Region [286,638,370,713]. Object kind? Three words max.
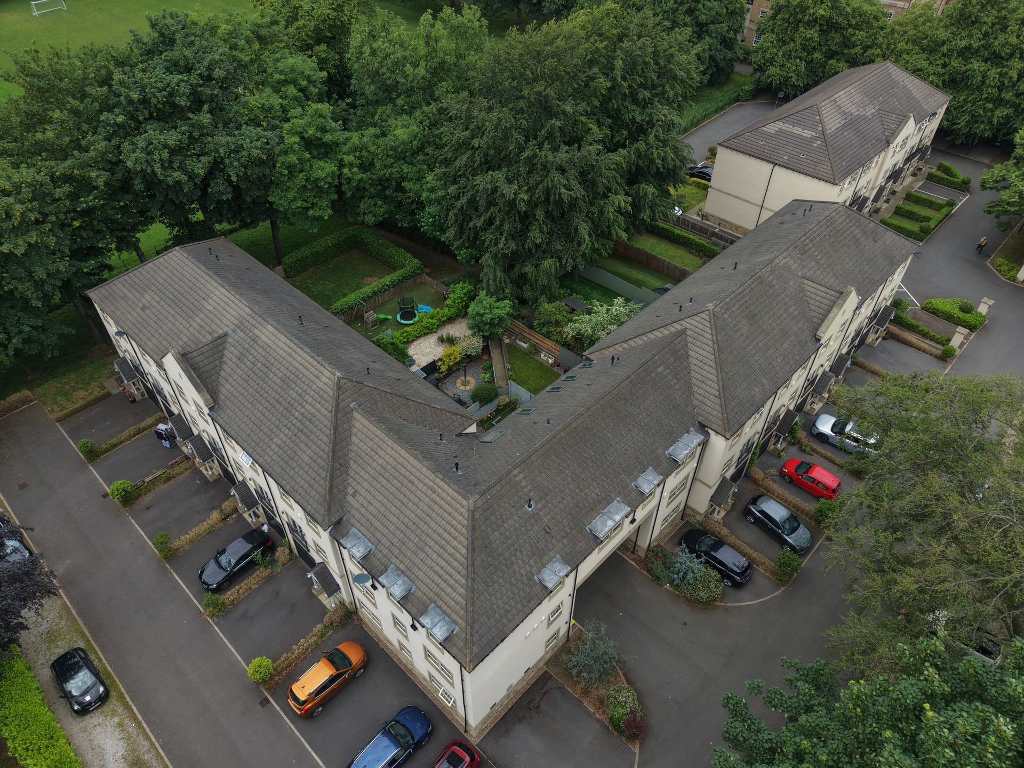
car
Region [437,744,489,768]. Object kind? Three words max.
car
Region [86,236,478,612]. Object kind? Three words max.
building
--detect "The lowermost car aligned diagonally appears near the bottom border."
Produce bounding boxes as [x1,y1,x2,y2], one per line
[343,698,434,768]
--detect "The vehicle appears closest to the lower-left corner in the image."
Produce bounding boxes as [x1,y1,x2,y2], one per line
[47,647,109,713]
